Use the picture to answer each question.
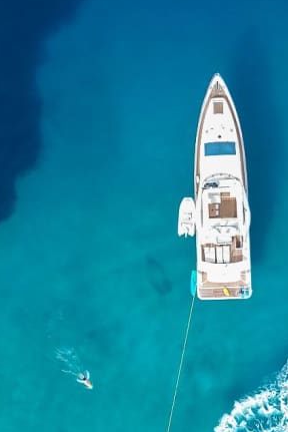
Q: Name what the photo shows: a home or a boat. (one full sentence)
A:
The image shows a boat.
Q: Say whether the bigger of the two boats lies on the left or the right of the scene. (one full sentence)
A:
It is on the right.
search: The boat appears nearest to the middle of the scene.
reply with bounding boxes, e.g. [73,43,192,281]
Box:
[179,198,194,237]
